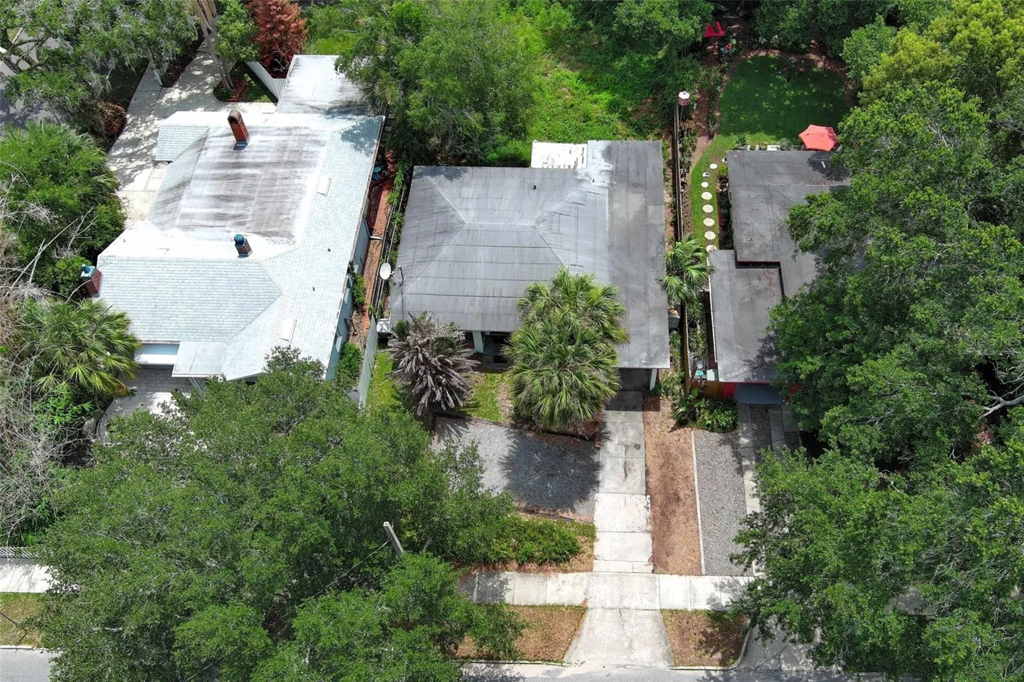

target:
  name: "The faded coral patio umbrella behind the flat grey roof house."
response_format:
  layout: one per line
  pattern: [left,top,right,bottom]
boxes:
[799,127,837,153]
